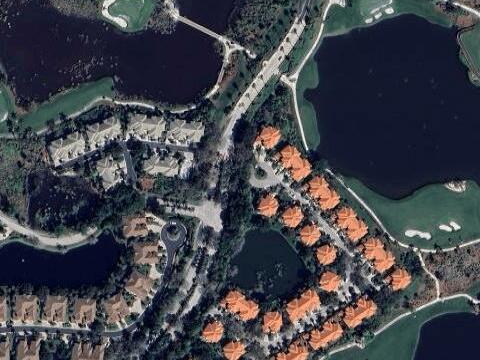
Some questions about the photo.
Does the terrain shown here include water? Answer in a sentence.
Yes, there's water in this view.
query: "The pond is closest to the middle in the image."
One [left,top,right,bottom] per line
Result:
[229,228,308,299]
